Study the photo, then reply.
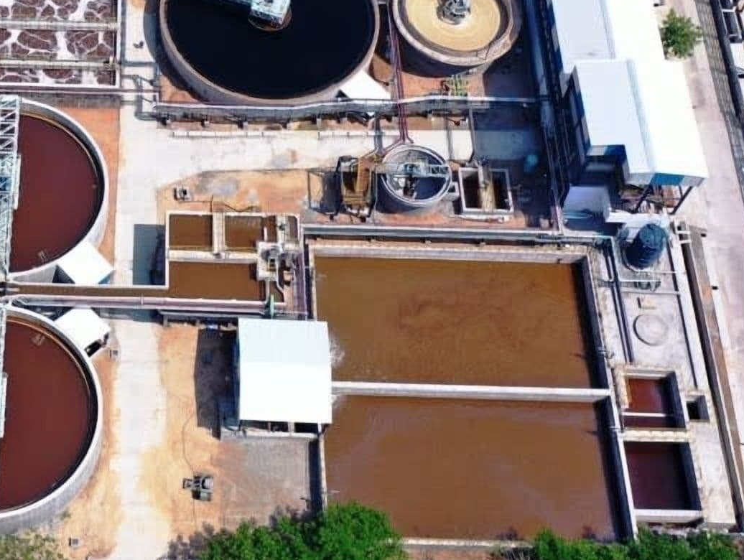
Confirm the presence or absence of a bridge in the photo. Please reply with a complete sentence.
Yes, I can see a bridge in this picture.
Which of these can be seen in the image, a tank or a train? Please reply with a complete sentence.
I can see a tank in this picture.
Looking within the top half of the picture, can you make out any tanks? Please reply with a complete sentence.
Yes, a tank is visible within the top half of the picture.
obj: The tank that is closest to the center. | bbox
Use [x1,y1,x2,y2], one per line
[374,145,462,221]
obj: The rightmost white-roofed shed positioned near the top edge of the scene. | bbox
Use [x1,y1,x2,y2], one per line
[529,0,707,222]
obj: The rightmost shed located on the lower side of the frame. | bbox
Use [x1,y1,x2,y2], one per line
[236,320,333,451]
